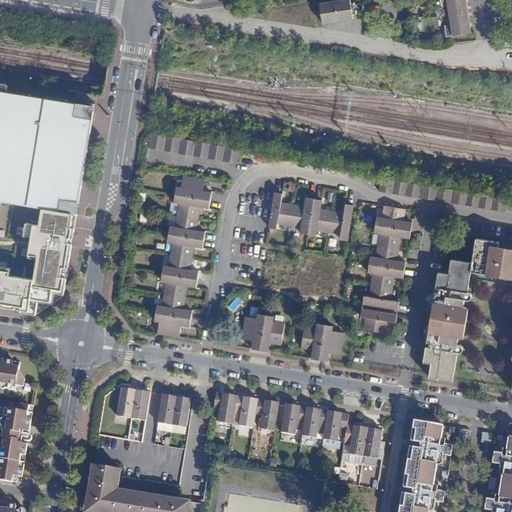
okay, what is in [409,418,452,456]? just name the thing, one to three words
building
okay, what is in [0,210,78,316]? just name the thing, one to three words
building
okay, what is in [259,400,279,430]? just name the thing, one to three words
house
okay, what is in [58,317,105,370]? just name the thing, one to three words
roundabout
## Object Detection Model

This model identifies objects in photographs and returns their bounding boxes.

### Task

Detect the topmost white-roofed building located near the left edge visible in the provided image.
[0,92,94,212]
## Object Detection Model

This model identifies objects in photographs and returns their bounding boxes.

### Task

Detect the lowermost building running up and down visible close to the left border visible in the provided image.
[0,402,36,486]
